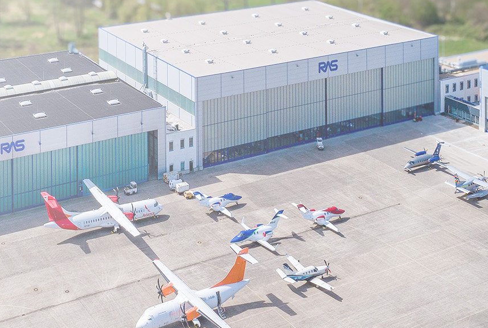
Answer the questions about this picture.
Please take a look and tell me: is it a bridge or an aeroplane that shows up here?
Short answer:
aeroplane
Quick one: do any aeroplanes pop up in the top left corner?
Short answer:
No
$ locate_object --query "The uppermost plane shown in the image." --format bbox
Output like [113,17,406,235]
[402,141,450,173]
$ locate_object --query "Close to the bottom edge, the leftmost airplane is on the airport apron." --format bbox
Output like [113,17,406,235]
[136,245,257,328]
